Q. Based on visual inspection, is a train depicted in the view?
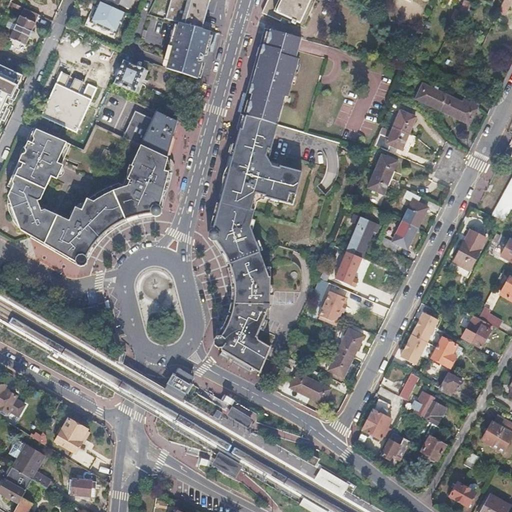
Yes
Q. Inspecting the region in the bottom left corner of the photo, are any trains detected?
Yes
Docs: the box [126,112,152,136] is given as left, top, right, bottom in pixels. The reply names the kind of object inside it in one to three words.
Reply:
building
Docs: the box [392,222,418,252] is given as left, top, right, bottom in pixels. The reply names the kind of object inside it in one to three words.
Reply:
house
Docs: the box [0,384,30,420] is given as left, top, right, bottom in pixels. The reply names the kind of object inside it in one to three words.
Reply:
house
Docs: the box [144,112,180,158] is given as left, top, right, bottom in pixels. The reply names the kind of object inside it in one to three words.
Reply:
building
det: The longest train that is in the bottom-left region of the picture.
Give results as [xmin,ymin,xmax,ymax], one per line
[8,316,232,450]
